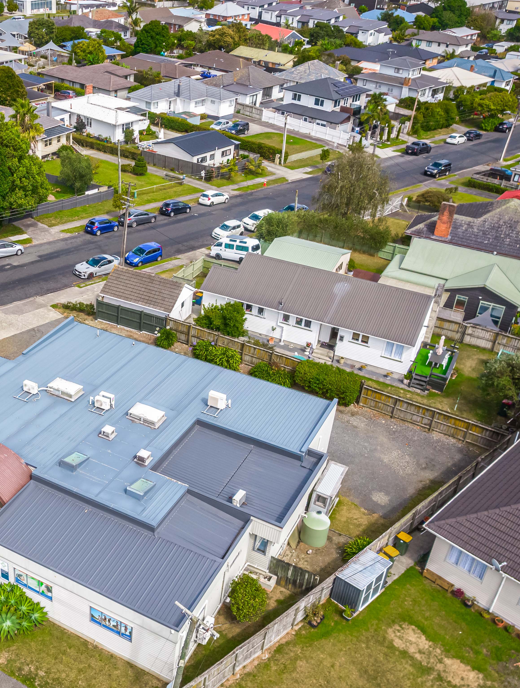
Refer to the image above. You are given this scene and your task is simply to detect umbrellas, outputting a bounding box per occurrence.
[18,39,37,49]
[437,335,446,355]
